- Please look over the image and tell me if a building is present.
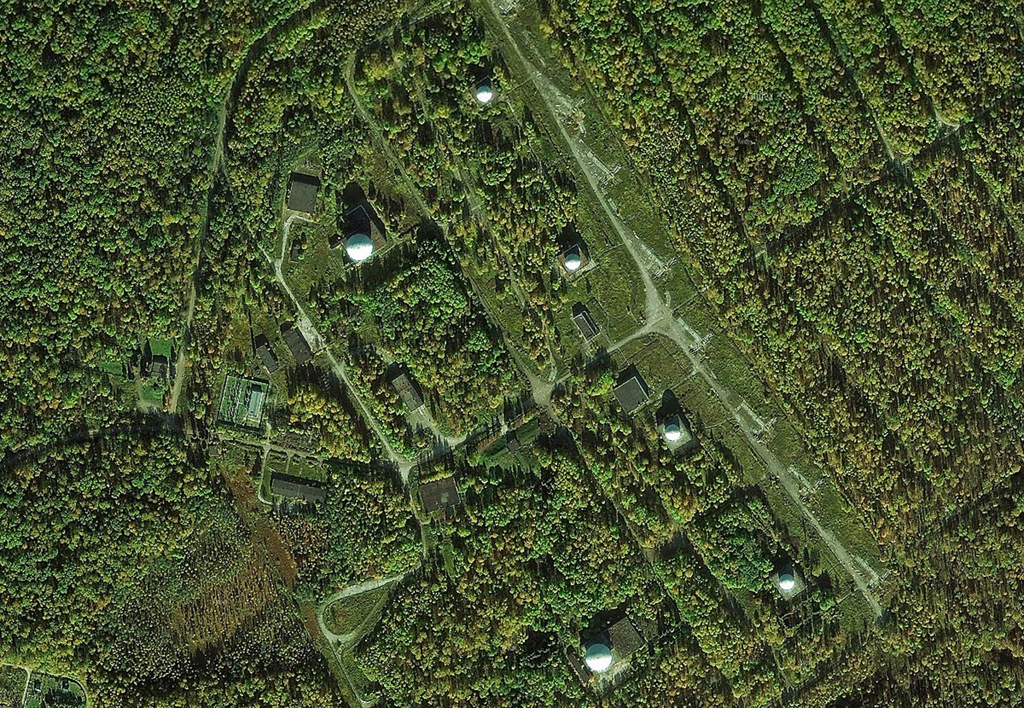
Yes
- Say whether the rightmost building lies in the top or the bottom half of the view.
bottom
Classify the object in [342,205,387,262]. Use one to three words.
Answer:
building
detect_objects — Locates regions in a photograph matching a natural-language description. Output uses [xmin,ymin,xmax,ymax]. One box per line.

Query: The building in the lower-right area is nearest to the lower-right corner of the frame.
[772,564,807,601]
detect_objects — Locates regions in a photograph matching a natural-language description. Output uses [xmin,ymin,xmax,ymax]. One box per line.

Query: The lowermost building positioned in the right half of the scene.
[585,616,644,671]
